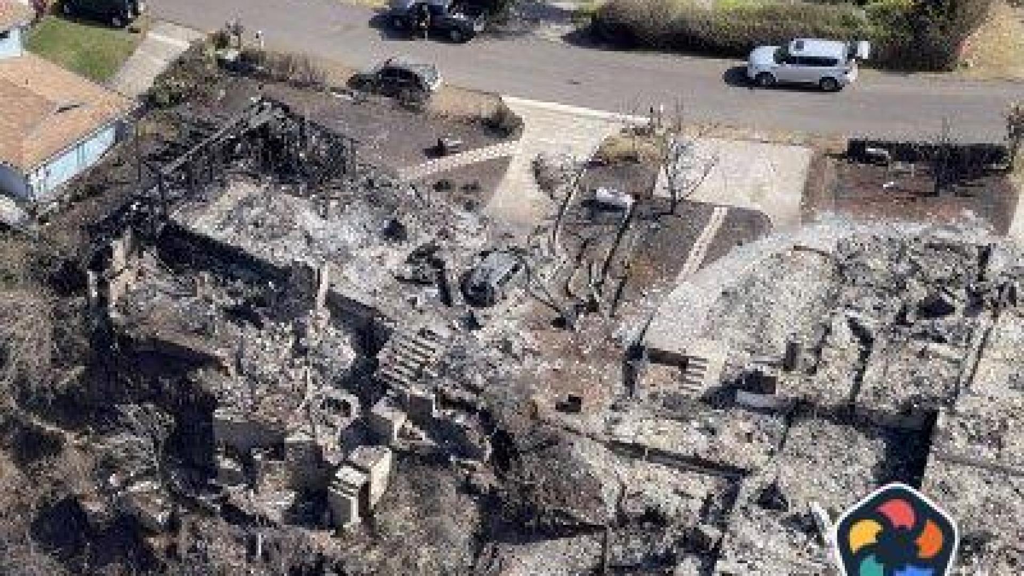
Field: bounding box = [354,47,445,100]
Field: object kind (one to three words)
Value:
car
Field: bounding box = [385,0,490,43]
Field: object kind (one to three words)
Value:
car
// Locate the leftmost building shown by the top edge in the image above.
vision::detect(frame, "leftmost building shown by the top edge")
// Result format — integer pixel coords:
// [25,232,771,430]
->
[0,0,131,213]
